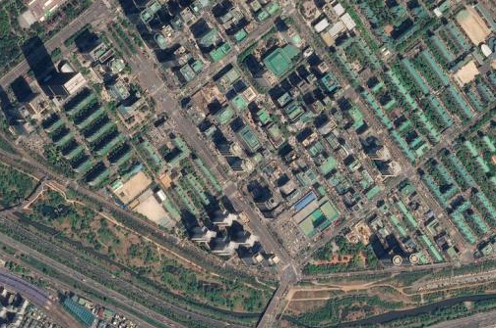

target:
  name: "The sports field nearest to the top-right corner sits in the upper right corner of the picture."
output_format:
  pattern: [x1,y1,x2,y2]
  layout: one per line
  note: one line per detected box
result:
[456,5,493,45]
